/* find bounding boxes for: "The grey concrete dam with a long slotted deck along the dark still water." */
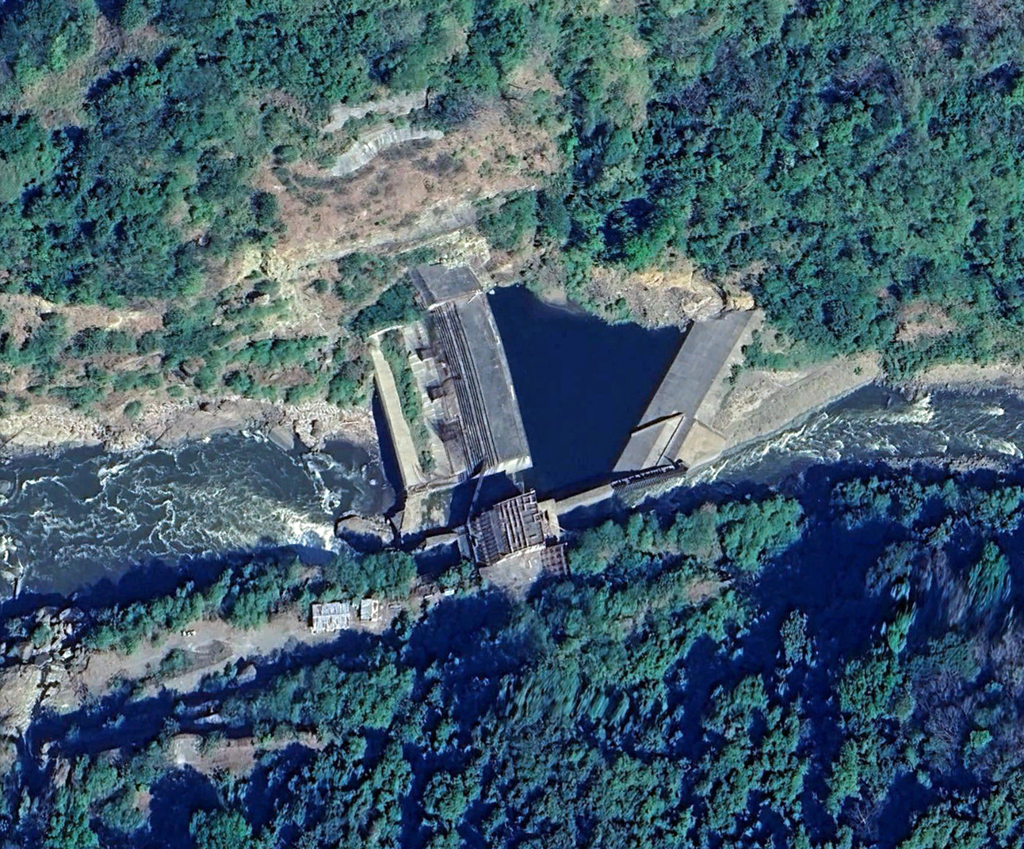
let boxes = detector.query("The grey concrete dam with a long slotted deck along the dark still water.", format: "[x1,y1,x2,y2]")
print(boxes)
[371,263,530,496]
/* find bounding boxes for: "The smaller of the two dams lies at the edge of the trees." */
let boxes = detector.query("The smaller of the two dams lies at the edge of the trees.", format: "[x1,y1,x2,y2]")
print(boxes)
[612,314,749,474]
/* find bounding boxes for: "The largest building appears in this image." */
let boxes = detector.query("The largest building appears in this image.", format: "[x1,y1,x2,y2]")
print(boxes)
[468,490,565,569]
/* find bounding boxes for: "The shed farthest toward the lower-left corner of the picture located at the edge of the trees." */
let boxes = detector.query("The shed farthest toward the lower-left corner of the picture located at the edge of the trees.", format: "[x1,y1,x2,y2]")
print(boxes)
[312,603,350,631]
